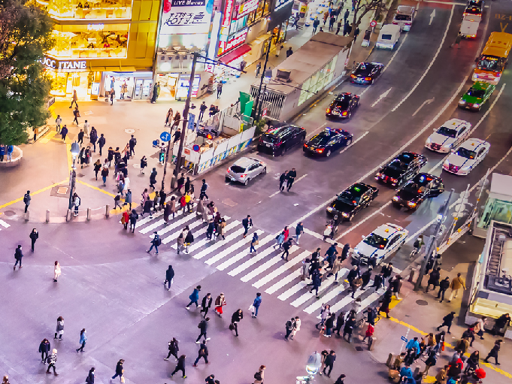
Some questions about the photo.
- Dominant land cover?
paved ground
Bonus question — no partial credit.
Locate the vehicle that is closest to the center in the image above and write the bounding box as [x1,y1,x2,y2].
[223,151,270,183]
